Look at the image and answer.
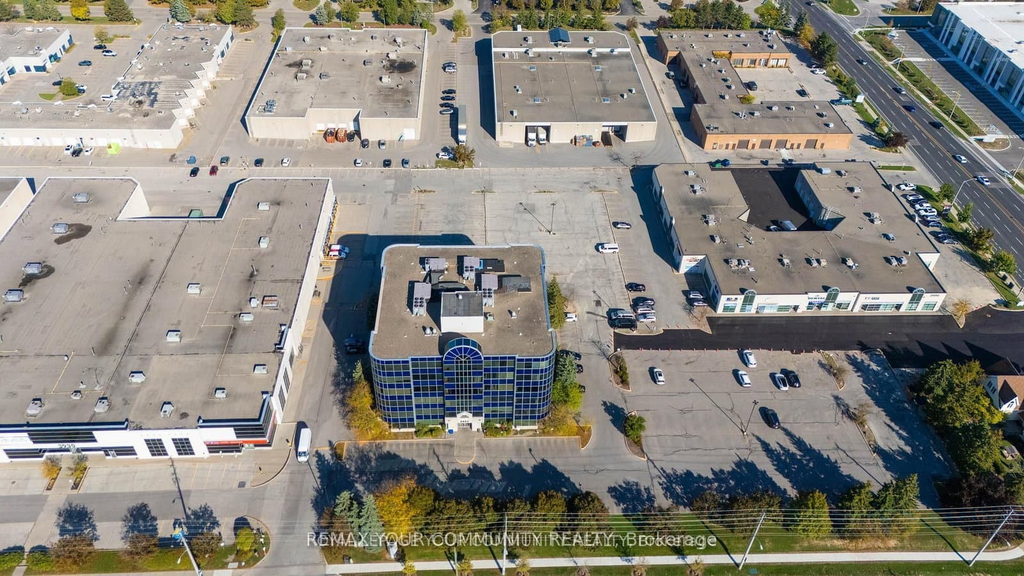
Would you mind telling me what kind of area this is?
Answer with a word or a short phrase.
industrial area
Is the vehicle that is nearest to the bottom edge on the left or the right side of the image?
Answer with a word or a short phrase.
left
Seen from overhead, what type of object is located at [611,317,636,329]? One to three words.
vehicle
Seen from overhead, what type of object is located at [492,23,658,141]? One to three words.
warehouse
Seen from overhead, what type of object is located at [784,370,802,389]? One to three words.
car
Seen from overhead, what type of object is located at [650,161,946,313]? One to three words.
building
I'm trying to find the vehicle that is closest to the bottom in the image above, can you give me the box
[295,427,315,460]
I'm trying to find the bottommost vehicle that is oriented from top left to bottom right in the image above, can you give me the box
[763,409,781,429]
